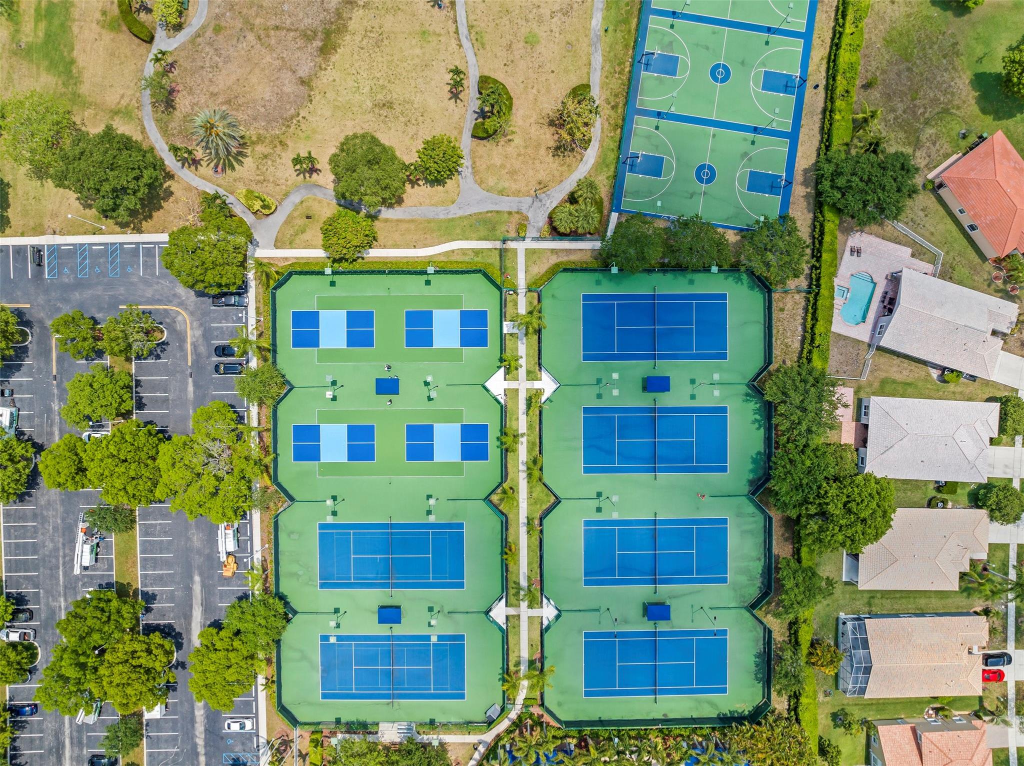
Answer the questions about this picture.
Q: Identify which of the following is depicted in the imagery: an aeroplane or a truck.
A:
truck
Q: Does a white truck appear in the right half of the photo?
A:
No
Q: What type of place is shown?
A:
sports ground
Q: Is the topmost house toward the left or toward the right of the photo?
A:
right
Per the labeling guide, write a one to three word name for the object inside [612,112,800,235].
basketball court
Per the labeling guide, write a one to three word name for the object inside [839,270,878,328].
swimming pool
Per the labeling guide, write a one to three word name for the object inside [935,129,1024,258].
house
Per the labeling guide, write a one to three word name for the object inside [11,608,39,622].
car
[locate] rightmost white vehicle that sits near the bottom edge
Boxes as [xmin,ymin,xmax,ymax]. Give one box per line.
[224,716,255,732]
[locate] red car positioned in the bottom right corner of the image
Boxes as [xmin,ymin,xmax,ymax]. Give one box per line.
[982,668,1006,683]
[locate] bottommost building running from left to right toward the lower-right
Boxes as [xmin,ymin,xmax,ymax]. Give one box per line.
[872,712,993,766]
